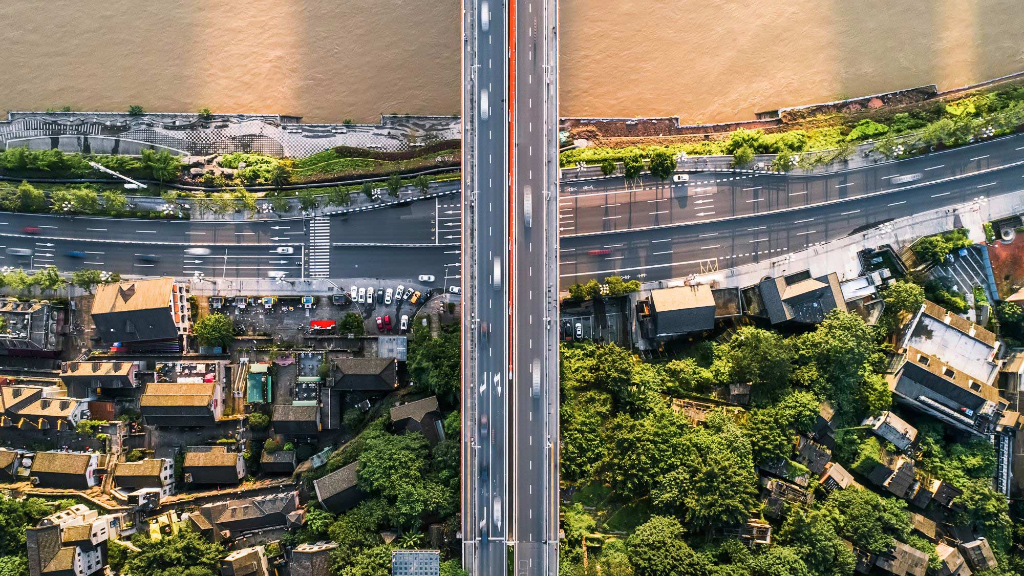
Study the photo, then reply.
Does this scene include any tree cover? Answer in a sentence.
Yes, there's tree cover in this view.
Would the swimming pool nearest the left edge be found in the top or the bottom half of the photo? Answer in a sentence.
The bottom half of the photo is where the swimming pool nearest the left edge is.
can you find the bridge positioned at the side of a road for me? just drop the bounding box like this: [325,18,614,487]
[458,0,566,576]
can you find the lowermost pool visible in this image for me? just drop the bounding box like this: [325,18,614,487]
[247,372,273,396]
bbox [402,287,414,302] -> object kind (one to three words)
vehicle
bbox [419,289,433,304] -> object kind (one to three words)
car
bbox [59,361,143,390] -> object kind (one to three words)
house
